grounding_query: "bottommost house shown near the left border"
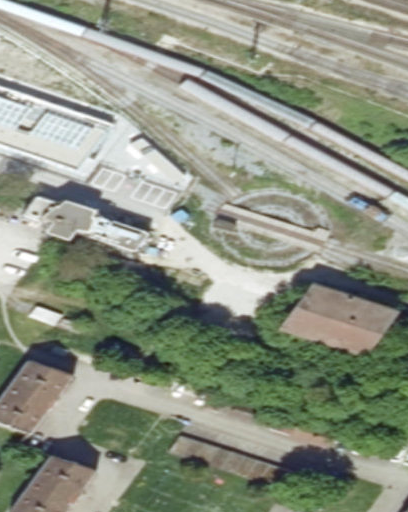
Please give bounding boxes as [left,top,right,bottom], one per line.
[7,457,95,512]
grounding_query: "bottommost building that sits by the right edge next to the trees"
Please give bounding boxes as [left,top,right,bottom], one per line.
[281,284,399,358]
